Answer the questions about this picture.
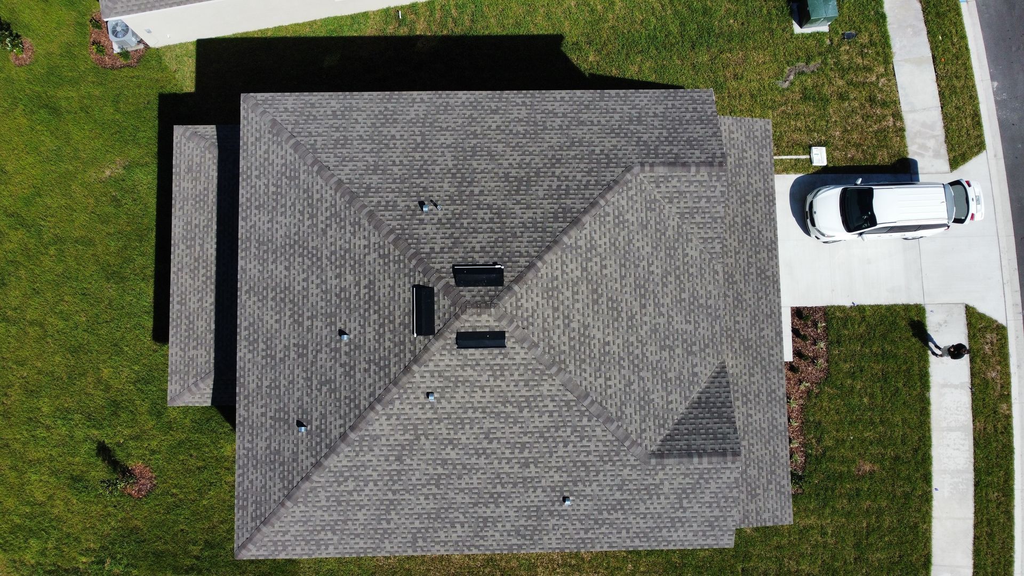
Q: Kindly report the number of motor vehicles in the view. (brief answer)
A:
1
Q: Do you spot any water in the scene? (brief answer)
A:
No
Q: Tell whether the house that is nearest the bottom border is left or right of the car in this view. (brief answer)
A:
on its left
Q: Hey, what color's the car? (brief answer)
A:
white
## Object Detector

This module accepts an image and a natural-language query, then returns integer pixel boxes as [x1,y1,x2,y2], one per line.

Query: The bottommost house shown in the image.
[167,90,792,560]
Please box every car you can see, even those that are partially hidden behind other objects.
[804,178,984,243]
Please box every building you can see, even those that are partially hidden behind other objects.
[167,90,792,560]
[101,0,415,47]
